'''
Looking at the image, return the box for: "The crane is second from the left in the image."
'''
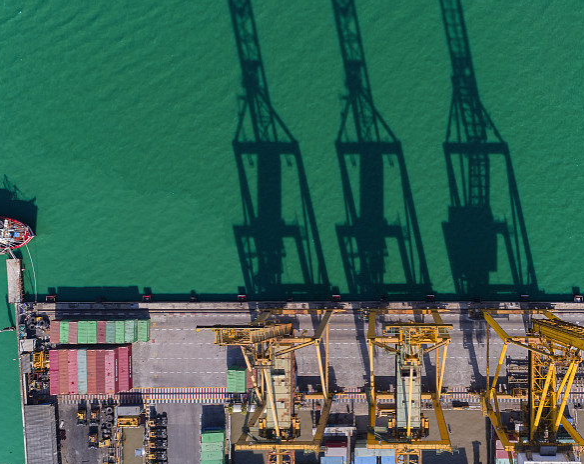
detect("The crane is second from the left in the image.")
[353,310,459,464]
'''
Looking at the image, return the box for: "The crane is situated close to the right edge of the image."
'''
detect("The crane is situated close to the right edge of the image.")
[461,310,584,464]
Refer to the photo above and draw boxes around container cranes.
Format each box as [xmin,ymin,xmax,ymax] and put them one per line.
[353,310,459,464]
[461,310,584,464]
[194,310,353,464]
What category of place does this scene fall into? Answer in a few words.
port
